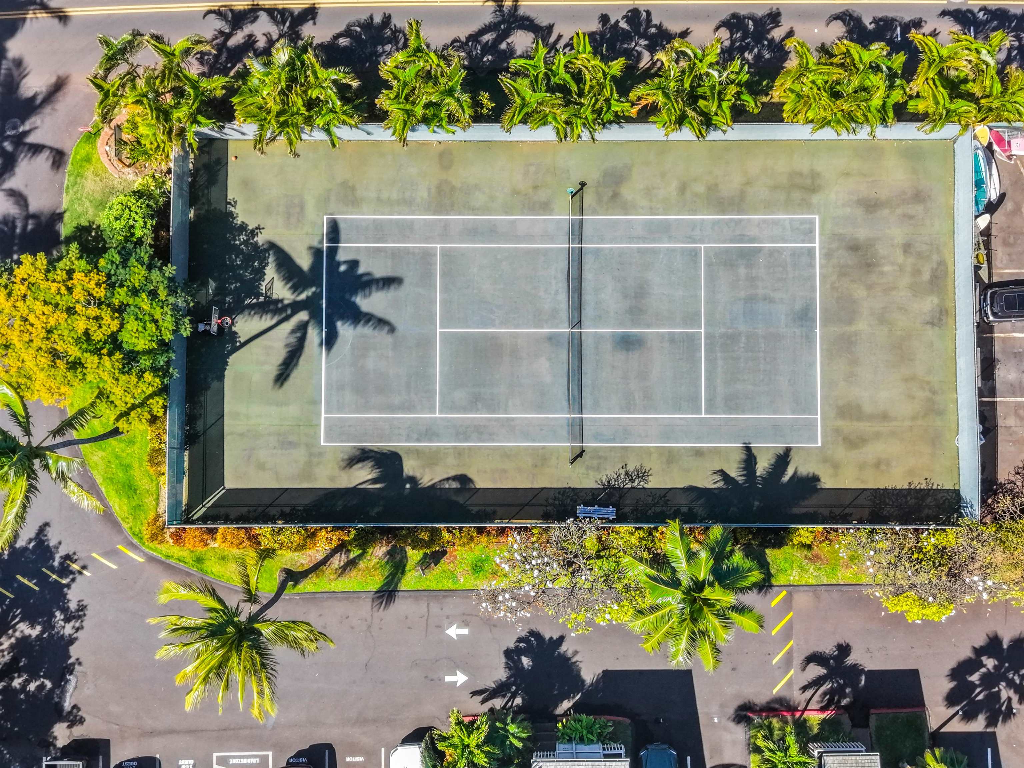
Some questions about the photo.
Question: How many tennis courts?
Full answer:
I count just 1 tennis court.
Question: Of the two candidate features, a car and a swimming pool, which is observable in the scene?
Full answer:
There is a car in the scene.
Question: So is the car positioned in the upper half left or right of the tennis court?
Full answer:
The tennis court has the car positioned in the upper half on its right side.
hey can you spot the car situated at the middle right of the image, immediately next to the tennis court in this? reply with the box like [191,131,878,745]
[979,281,1024,324]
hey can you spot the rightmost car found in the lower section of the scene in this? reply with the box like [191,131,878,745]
[638,742,677,768]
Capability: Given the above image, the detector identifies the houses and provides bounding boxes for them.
[530,742,631,768]
[813,742,883,768]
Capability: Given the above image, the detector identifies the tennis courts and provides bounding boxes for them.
[185,140,962,521]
